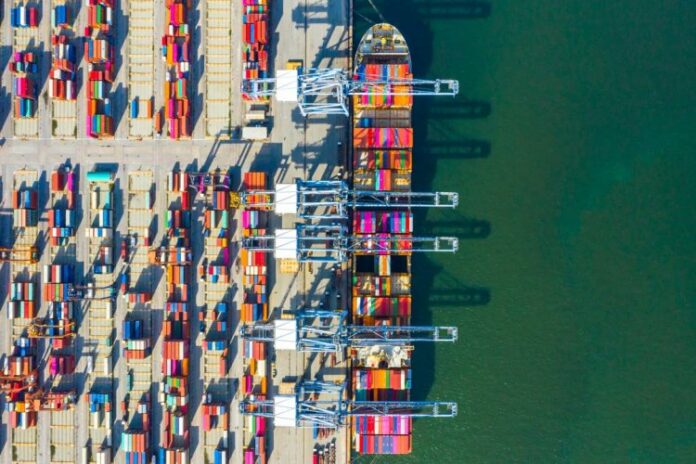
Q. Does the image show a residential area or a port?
port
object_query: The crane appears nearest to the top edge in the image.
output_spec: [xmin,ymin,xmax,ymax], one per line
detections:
[244,70,460,123]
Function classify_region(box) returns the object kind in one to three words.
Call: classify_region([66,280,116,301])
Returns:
container crane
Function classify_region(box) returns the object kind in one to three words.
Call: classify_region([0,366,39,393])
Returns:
container crane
